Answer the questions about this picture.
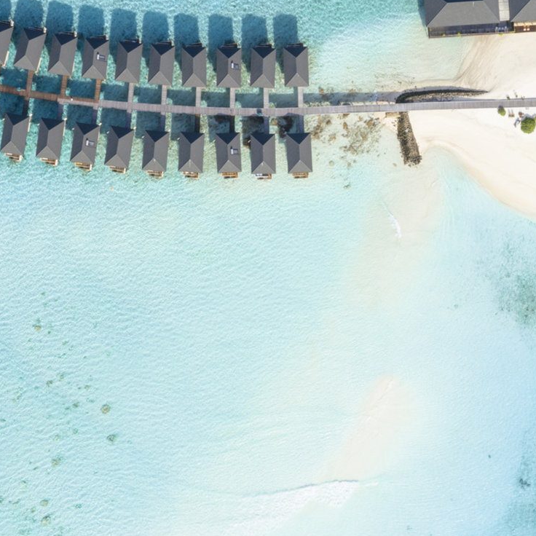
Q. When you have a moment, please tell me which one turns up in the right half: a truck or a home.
home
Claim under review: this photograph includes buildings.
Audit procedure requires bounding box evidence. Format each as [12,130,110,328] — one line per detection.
[181,41,208,89]
[0,113,33,162]
[14,24,51,73]
[69,122,102,170]
[282,40,310,88]
[48,28,81,77]
[214,41,242,89]
[141,130,171,178]
[82,32,112,81]
[283,131,313,179]
[214,131,241,179]
[0,18,18,67]
[178,132,206,179]
[105,126,137,174]
[424,0,514,38]
[248,132,275,180]
[147,39,176,86]
[115,36,146,85]
[248,41,277,90]
[36,117,68,166]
